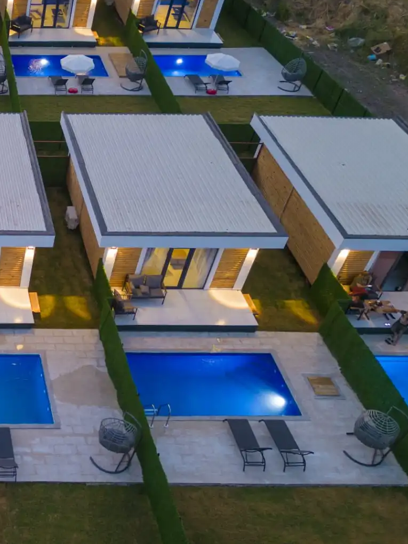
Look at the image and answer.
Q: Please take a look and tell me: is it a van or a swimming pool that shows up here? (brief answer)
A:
swimming pool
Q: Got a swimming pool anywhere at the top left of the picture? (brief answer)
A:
Yes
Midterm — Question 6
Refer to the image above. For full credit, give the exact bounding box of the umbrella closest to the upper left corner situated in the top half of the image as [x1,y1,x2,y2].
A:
[59,53,96,93]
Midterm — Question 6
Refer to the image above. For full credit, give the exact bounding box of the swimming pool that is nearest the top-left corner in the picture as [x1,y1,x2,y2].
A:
[14,53,114,80]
